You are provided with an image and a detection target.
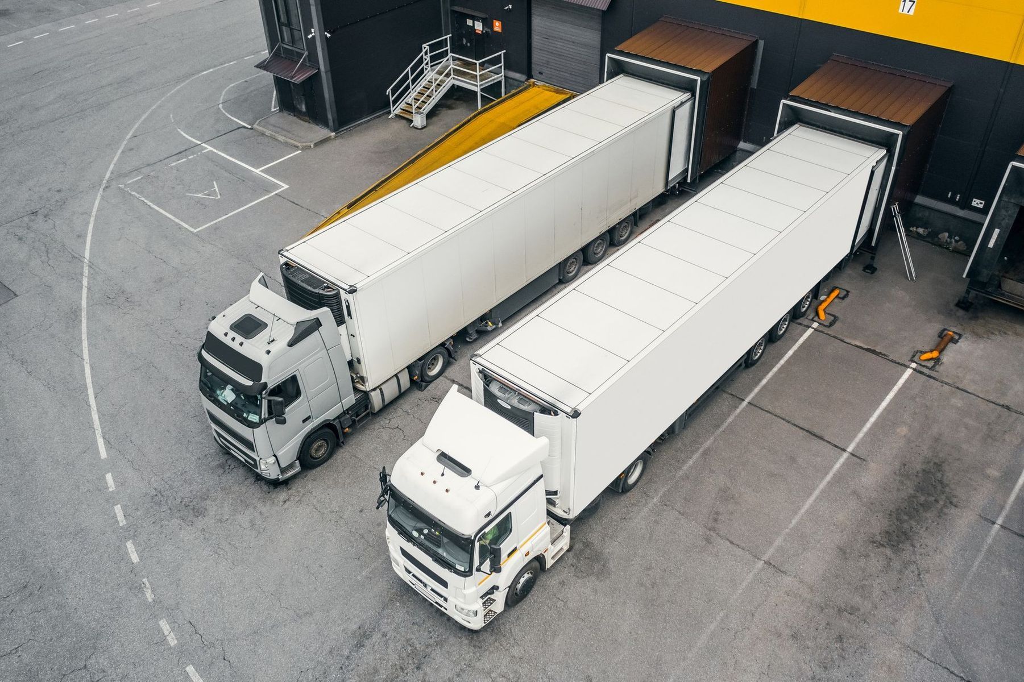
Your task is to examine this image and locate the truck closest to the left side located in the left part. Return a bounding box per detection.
[188,267,451,481]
